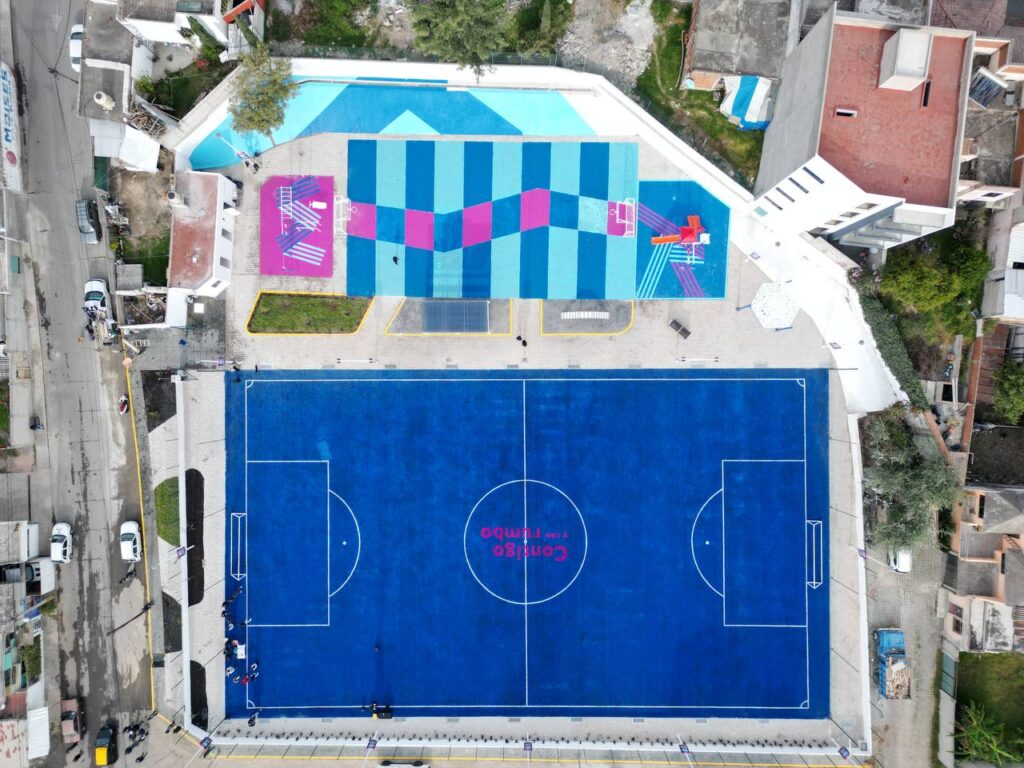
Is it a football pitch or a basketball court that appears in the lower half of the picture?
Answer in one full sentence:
The feature located in the lower half of the picture is a football pitch.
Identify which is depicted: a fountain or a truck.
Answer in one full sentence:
There is a truck in the scene.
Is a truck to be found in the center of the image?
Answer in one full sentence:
No, no truck can be made out in the center of the image.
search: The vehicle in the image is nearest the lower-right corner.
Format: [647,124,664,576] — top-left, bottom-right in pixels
[875,625,911,705]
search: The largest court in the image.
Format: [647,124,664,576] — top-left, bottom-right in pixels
[346,140,639,299]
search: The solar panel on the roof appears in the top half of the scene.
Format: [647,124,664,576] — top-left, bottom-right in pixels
[970,65,1018,107]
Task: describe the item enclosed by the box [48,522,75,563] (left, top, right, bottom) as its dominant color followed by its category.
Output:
white car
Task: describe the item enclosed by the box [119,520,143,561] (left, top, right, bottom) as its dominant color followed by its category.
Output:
white car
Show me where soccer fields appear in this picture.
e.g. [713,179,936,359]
[226,370,830,719]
